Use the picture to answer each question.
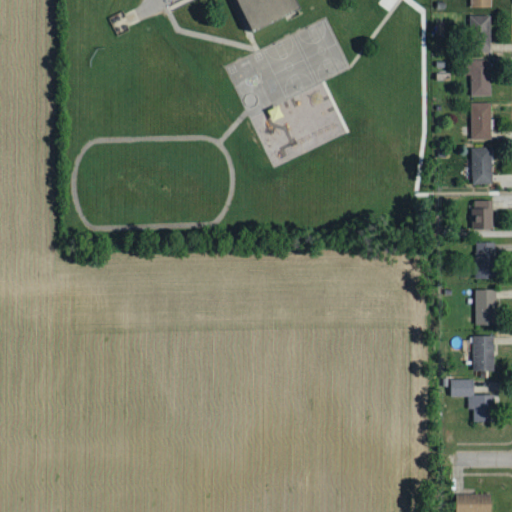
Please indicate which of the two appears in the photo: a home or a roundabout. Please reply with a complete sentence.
This aerial view contains a home.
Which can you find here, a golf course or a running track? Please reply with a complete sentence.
This aerial view contains a running track.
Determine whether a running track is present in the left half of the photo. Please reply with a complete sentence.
Yes, you'll find a running track in the left half of the photo.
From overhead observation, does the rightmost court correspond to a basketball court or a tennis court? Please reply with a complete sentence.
The rightmost court is a basketball court.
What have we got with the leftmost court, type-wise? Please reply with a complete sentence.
It looks like the leftmost court is a basketball court.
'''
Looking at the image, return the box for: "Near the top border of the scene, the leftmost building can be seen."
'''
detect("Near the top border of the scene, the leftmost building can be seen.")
[238,0,304,31]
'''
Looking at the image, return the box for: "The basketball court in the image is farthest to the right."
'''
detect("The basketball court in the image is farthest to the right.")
[296,20,348,81]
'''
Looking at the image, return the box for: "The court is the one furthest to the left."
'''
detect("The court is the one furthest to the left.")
[264,35,316,97]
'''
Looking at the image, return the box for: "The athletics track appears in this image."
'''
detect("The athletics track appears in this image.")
[72,134,235,232]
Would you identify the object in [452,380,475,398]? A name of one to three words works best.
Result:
building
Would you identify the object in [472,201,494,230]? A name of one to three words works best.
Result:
house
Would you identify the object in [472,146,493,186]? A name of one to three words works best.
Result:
house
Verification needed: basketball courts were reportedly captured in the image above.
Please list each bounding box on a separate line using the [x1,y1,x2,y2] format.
[264,35,316,97]
[296,20,348,81]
